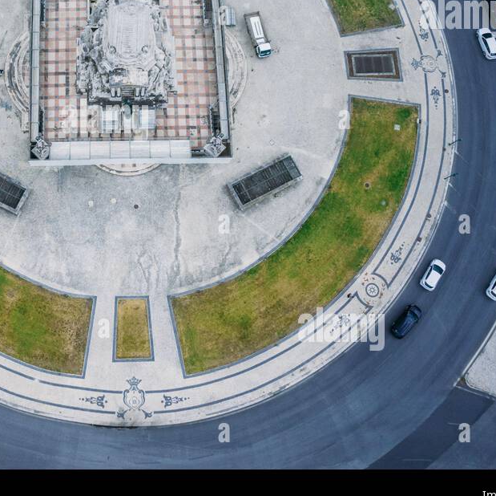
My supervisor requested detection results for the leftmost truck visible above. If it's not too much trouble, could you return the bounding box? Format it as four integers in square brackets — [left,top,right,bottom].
[244,12,276,58]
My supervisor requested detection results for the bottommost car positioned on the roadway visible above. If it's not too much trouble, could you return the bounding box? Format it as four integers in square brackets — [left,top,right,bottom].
[389,304,421,341]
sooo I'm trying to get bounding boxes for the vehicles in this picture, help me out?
[389,304,421,341]
[244,12,276,58]
[485,275,496,301]
[474,30,496,61]
[419,258,446,293]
